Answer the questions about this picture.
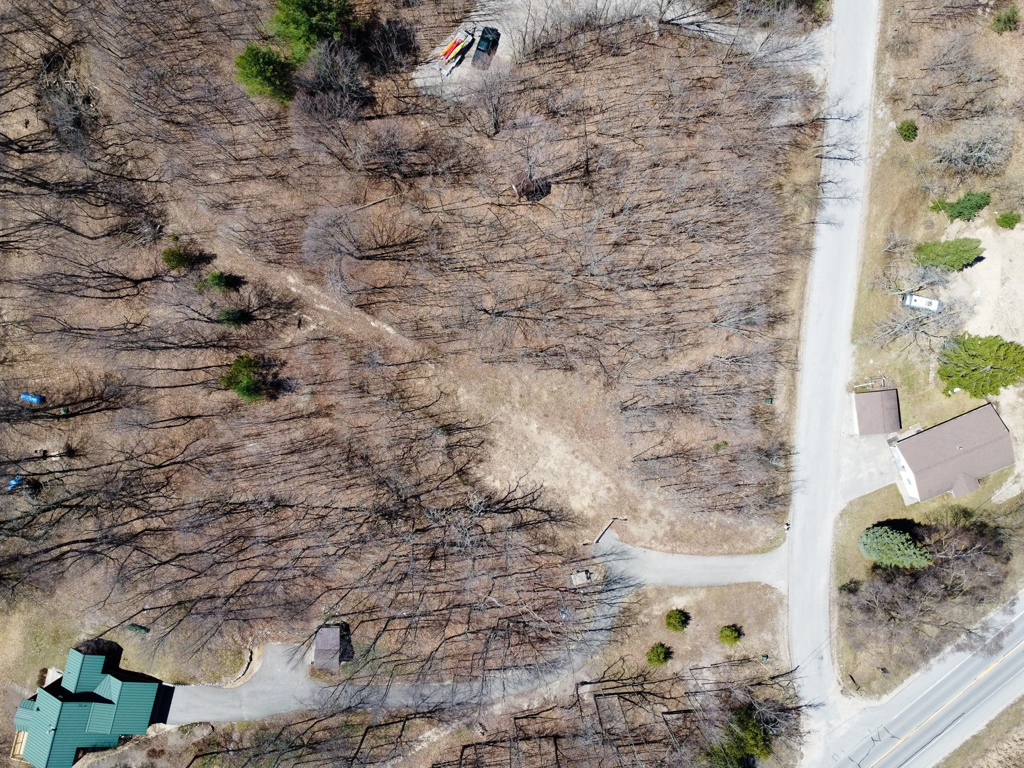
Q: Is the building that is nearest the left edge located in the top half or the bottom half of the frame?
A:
bottom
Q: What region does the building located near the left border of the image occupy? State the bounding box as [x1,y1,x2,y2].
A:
[6,642,164,768]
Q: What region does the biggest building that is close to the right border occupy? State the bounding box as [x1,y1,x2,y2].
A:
[891,404,1016,503]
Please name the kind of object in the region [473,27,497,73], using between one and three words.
truck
